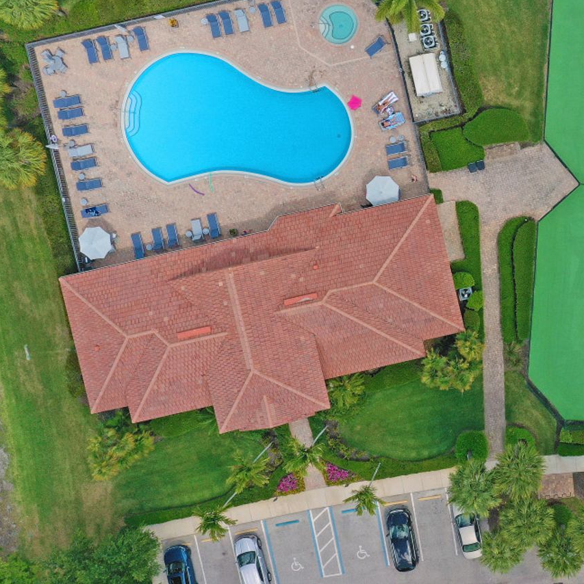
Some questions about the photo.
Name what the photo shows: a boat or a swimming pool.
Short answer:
swimming pool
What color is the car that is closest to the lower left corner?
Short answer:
blue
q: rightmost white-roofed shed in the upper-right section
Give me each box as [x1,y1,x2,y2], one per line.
[411,53,443,98]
